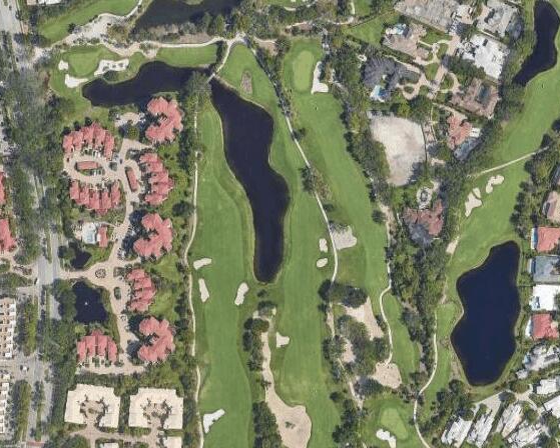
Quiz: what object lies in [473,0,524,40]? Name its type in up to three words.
house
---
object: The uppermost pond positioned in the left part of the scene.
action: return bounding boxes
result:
[133,0,235,36]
